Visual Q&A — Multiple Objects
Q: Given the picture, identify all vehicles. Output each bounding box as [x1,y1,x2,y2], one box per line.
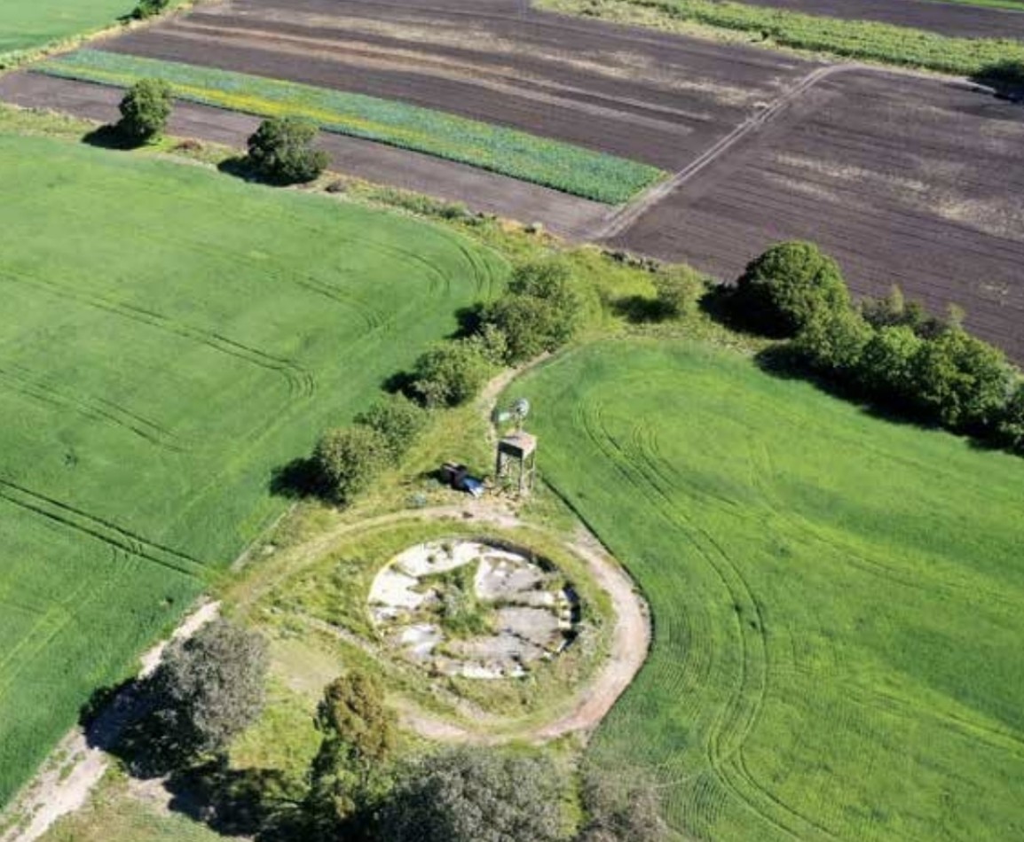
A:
[437,466,484,498]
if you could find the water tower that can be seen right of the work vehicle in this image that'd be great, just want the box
[496,428,537,495]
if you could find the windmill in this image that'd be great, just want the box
[503,400,531,439]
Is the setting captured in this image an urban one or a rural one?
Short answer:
rural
